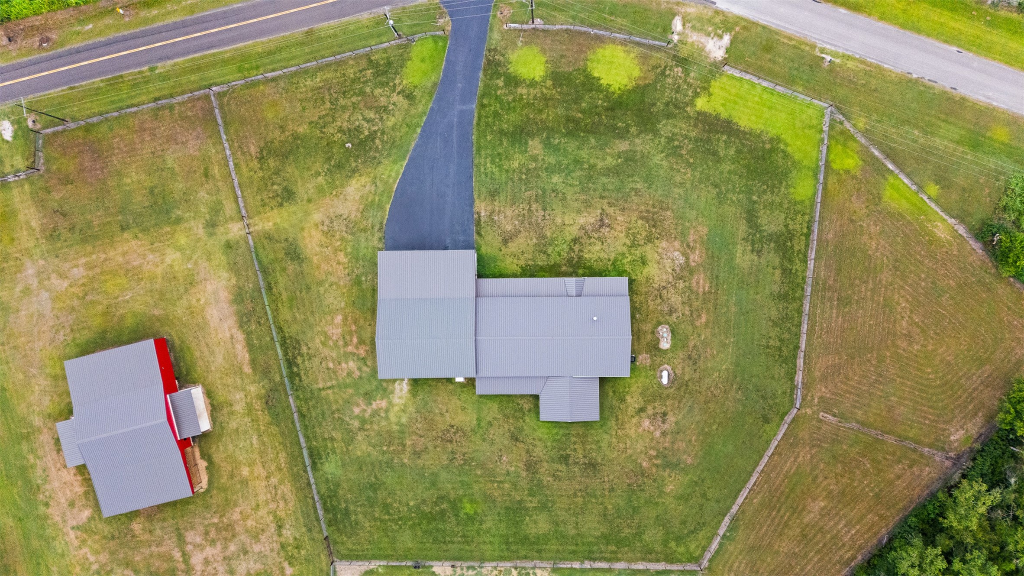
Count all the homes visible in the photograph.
two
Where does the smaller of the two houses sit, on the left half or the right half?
left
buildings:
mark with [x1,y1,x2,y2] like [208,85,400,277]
[375,250,632,422]
[56,337,211,518]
